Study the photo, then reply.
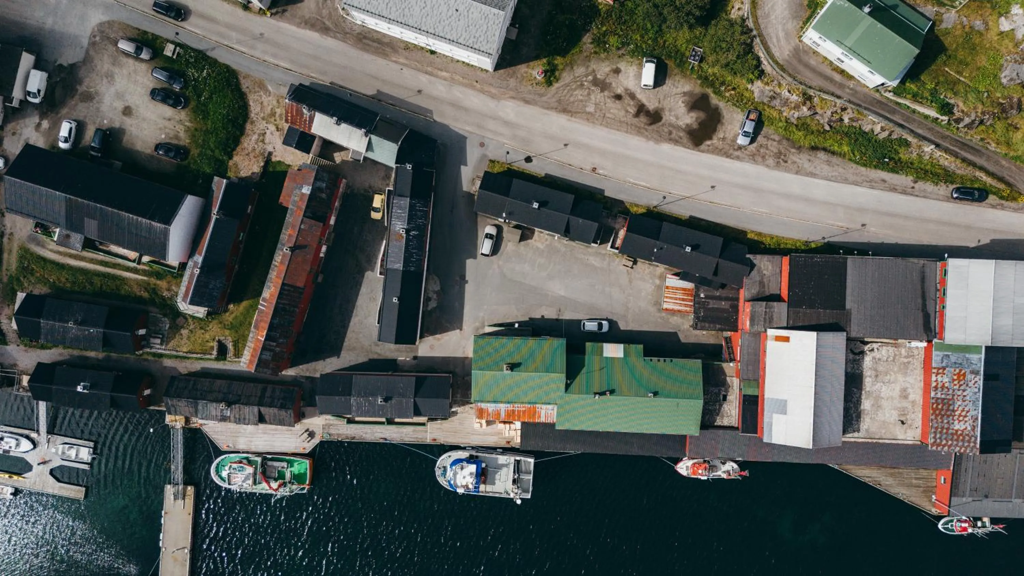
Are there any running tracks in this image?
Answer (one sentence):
No, this view has no running track in it.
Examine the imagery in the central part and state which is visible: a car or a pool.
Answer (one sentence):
What appears in the central part is a car.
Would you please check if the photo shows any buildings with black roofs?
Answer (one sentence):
Yes, a building with a black roof is visible in the scene.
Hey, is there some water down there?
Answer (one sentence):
Yes, water shows up in the scene.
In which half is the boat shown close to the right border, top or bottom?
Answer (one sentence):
It is in the bottom half that the boat shown close to the right border appears.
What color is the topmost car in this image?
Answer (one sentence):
The topmost car looks black in the image.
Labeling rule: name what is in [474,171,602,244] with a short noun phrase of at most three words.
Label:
building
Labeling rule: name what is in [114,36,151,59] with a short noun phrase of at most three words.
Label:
car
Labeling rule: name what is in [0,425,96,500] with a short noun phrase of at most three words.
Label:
pier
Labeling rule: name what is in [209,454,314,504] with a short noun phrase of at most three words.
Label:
boat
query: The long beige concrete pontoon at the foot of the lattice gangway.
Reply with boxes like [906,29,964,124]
[158,483,196,576]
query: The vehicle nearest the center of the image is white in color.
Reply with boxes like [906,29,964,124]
[479,224,497,257]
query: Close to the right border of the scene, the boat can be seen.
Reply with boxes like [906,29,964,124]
[935,516,1008,540]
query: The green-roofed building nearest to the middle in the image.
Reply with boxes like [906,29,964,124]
[472,326,565,421]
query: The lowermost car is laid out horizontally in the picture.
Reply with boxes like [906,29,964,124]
[580,319,610,334]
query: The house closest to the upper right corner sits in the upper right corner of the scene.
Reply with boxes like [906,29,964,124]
[806,0,932,91]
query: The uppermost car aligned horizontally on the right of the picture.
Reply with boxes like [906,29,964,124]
[953,185,991,201]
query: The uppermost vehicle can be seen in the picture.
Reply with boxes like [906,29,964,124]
[147,0,185,21]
